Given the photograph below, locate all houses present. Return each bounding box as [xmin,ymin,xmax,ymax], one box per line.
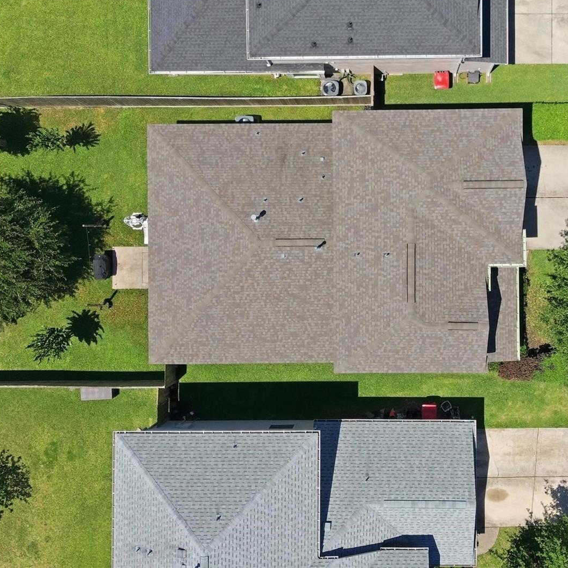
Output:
[146,0,509,85]
[148,110,527,373]
[111,415,480,568]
